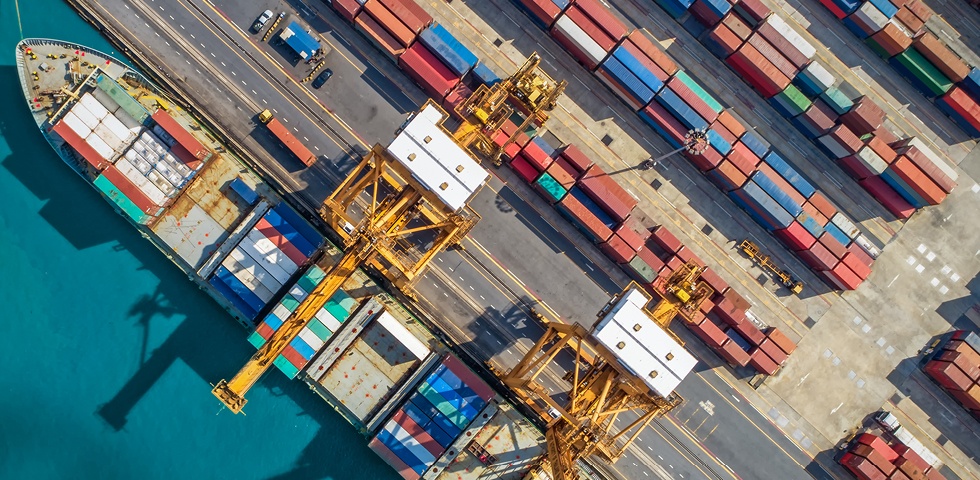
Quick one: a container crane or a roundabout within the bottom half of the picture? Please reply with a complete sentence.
The one visible within the bottom half of the picture is a container crane.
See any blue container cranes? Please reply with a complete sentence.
No, there appears to be no blue container crane in this shot.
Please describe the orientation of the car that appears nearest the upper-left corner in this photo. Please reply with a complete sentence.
In this picture, the car that appears nearest the upper-left corner is oriented diagonally.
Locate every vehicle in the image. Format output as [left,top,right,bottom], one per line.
[740,236,808,296]
[877,410,898,436]
[250,9,273,32]
[842,426,863,447]
[926,335,947,355]
[311,67,333,89]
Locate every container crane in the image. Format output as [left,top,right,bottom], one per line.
[485,262,713,480]
[205,79,511,414]
[469,46,572,166]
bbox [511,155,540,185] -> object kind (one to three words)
shipping container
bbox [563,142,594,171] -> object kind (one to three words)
shipping container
